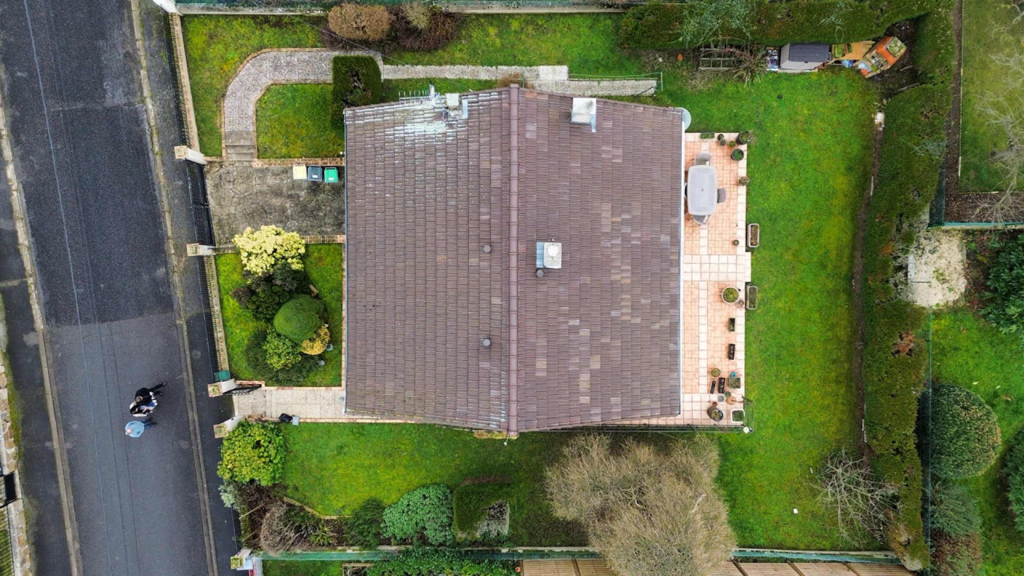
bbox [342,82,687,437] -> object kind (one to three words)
house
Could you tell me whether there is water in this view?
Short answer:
No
